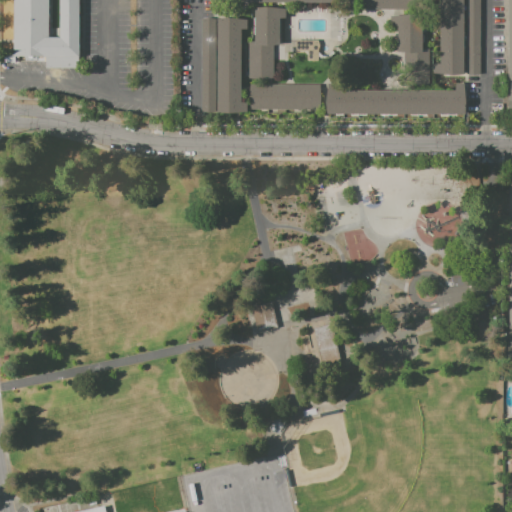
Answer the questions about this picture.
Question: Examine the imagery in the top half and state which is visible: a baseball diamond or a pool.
pool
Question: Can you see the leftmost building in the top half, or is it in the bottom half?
top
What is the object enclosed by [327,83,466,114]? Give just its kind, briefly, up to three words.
building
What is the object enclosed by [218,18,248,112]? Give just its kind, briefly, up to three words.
building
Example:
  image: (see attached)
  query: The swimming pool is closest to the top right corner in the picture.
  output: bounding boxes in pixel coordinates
[292,12,348,55]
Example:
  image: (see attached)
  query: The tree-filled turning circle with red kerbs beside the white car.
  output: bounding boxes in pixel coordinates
[404,266,470,313]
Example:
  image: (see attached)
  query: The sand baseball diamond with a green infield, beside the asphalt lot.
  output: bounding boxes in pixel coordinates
[284,412,351,486]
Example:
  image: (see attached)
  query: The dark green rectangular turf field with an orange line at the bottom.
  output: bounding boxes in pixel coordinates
[113,478,186,512]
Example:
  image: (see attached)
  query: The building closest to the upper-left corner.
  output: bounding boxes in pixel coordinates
[14,0,80,67]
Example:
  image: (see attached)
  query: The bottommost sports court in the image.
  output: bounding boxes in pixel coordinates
[344,230,378,263]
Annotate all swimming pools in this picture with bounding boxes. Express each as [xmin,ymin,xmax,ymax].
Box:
[506,382,512,418]
[292,12,348,55]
